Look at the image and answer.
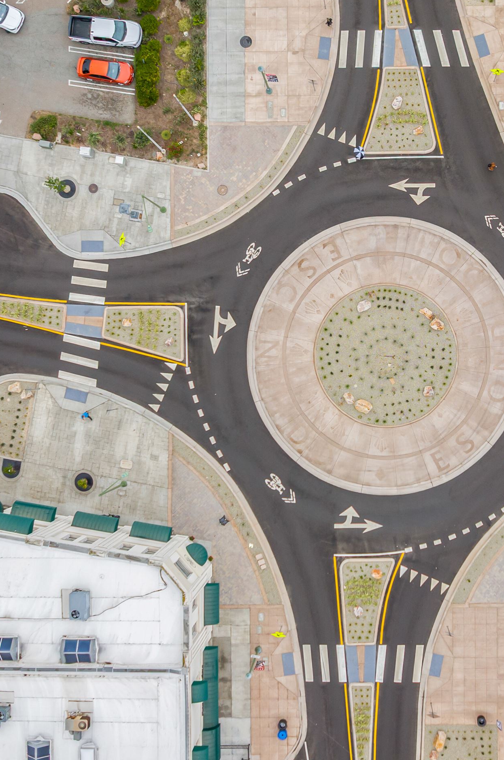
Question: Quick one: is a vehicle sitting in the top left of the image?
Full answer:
Yes, there is a vehicle in the top left of the image.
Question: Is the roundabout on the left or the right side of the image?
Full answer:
You can find the roundabout on the right side of the picture.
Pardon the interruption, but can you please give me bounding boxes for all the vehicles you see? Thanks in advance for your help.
[0,0,27,36]
[75,57,137,87]
[66,14,144,49]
